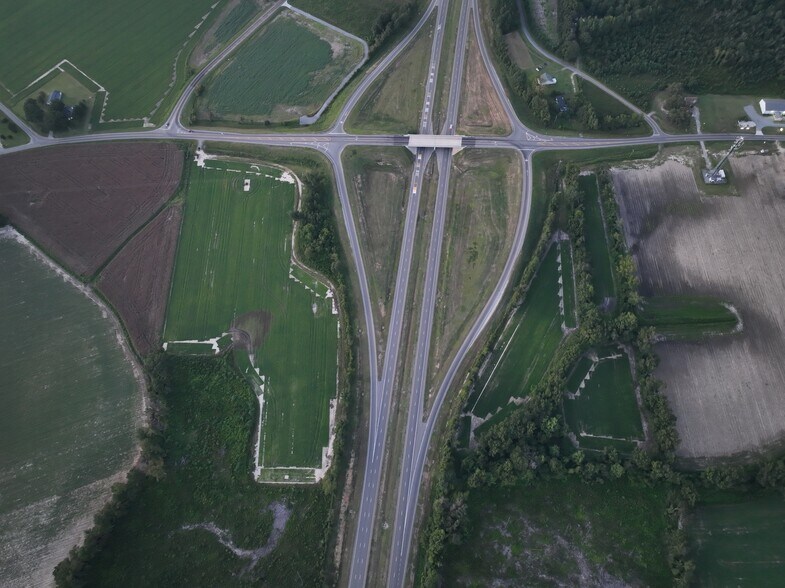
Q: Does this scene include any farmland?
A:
Yes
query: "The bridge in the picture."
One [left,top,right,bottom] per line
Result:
[405,133,467,155]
